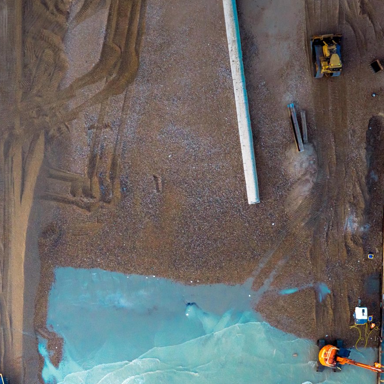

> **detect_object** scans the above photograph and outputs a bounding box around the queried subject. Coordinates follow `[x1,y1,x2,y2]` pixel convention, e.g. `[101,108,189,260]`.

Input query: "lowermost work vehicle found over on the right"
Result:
[311,338,381,372]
